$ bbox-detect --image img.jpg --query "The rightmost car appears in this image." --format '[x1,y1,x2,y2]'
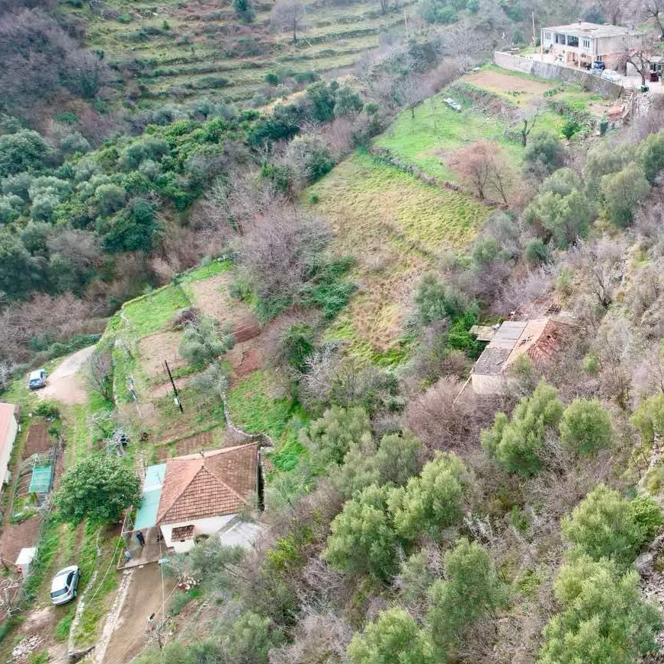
[647,68,660,81]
